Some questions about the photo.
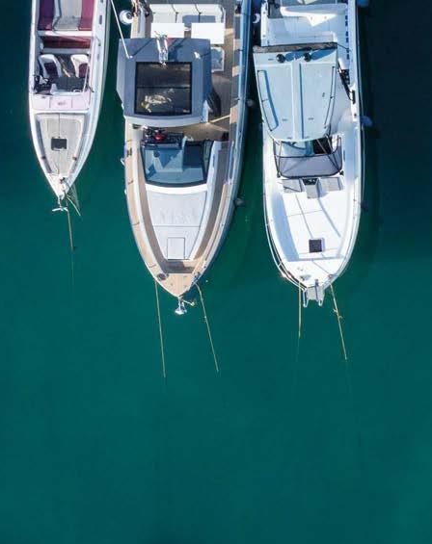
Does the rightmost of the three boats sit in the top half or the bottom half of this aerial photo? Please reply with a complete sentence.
The rightmost of the three boats sits in the top half of the picture.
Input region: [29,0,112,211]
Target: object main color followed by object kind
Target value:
white boat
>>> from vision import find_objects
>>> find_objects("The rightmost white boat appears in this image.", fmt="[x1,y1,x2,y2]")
[254,0,363,306]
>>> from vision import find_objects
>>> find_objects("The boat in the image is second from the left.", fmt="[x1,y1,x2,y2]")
[111,0,252,314]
